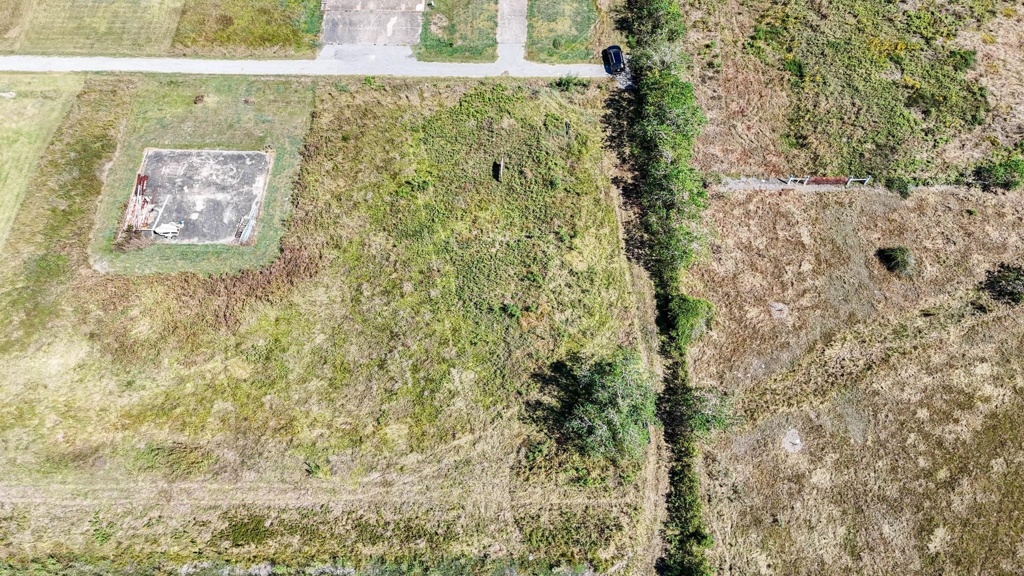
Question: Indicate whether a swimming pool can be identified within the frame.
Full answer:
No, the picture doesn't show any swimming pool.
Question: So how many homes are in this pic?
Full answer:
The count of homes is 0.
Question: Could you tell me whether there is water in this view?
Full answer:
No, water can't be seen anywhere here.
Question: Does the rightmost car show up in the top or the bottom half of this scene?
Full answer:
The rightmost car is in the top half of the image.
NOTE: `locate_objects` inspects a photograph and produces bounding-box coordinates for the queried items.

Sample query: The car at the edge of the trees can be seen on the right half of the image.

[605,46,626,72]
